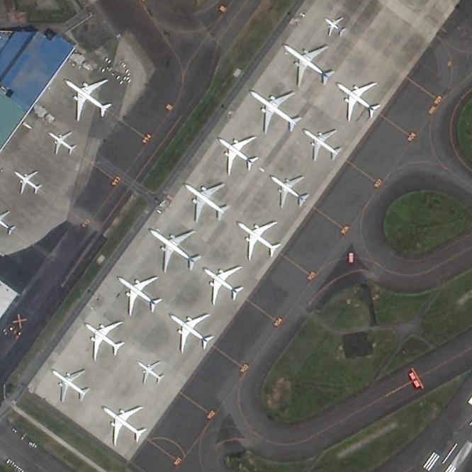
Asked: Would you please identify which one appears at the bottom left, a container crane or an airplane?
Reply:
airplane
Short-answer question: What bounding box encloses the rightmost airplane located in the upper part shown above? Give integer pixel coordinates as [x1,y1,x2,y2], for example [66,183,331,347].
[336,81,380,120]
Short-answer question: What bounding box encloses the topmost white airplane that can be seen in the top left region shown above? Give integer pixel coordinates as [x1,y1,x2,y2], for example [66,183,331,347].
[66,80,111,118]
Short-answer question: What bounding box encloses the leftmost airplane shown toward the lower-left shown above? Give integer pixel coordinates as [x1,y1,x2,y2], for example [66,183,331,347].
[51,369,89,400]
